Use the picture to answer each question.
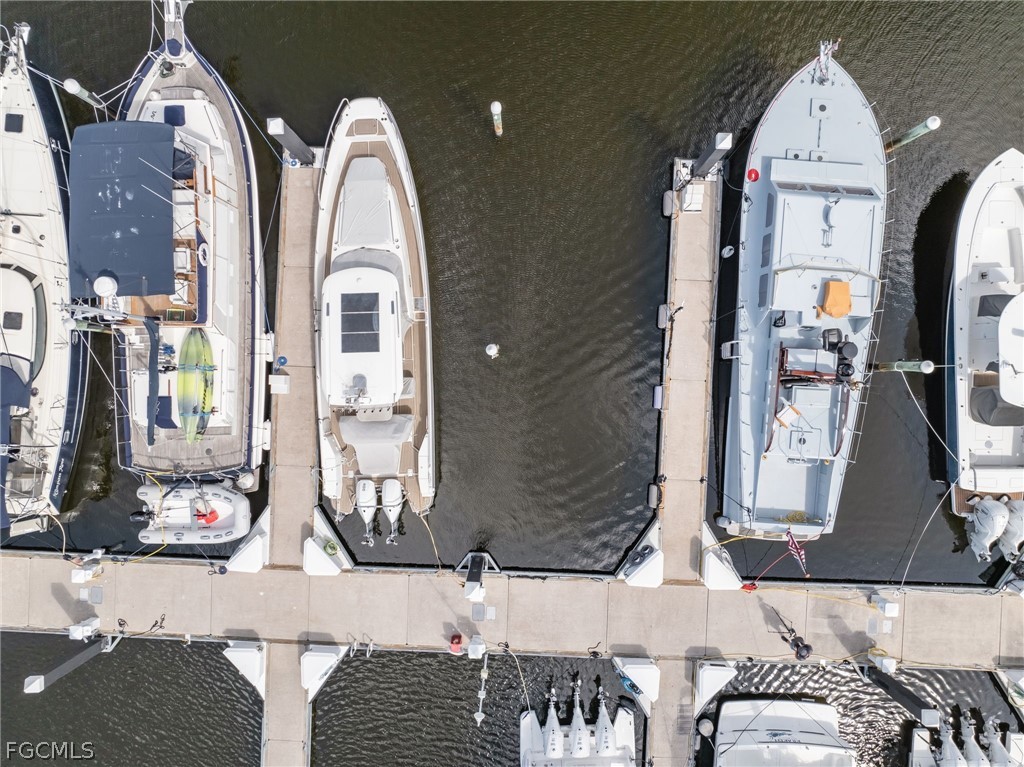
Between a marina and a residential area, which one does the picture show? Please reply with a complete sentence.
The picture captures a marina.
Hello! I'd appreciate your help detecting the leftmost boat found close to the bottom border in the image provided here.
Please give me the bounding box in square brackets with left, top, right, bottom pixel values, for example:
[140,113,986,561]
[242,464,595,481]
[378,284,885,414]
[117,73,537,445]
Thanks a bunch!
[519,673,637,767]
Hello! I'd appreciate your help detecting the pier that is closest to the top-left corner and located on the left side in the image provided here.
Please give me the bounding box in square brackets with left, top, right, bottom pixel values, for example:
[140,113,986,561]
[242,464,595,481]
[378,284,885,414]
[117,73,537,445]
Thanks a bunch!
[269,162,325,565]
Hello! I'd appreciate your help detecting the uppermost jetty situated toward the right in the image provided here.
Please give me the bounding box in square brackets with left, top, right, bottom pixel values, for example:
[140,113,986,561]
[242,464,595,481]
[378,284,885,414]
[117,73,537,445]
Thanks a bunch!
[653,162,724,582]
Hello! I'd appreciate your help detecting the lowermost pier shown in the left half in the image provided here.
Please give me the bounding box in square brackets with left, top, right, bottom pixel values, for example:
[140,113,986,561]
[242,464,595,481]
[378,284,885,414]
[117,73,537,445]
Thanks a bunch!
[259,646,315,767]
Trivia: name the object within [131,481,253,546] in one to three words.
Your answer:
boat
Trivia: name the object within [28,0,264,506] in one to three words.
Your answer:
boat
